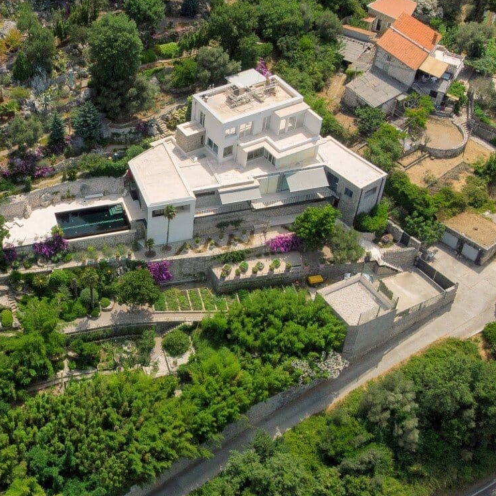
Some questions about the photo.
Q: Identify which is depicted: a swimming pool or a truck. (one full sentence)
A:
Of the two, only a swimming pool appears.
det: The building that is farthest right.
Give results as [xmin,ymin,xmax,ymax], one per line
[440,211,496,264]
